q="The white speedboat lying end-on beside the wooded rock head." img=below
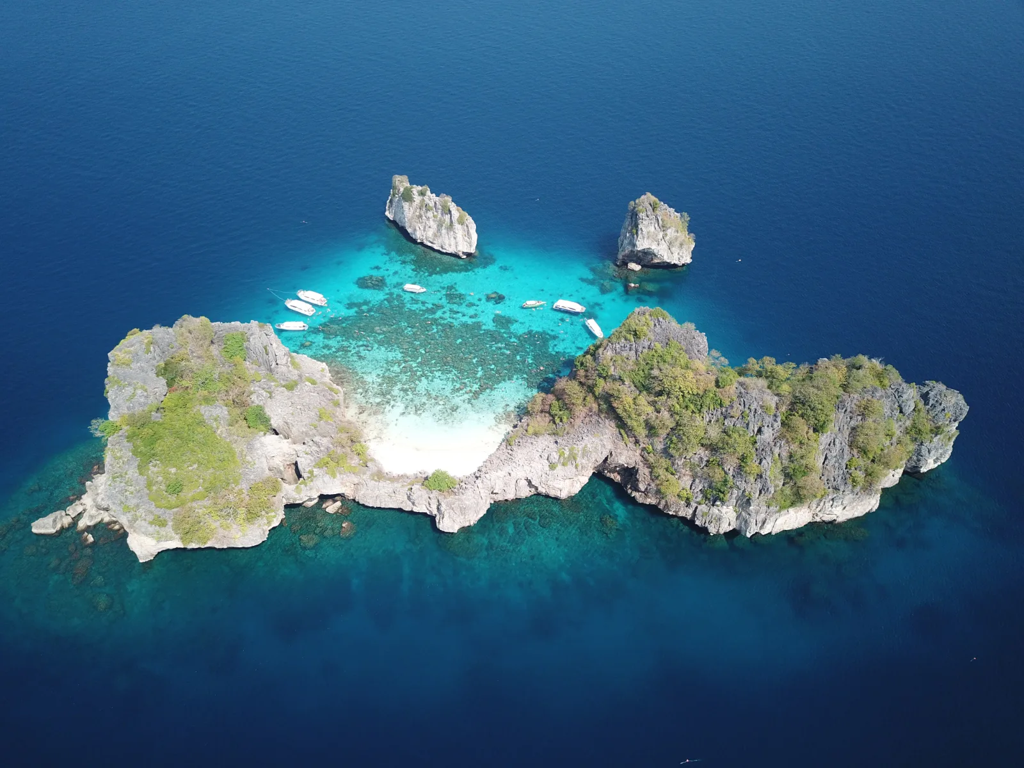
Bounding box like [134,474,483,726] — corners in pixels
[584,317,602,337]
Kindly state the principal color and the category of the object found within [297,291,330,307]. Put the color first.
white boat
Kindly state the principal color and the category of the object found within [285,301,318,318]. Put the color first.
white boat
